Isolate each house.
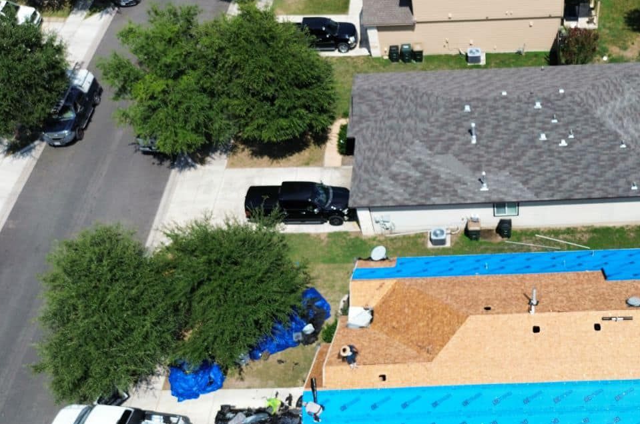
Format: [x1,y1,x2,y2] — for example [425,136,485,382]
[300,248,640,424]
[347,59,640,239]
[363,0,604,61]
